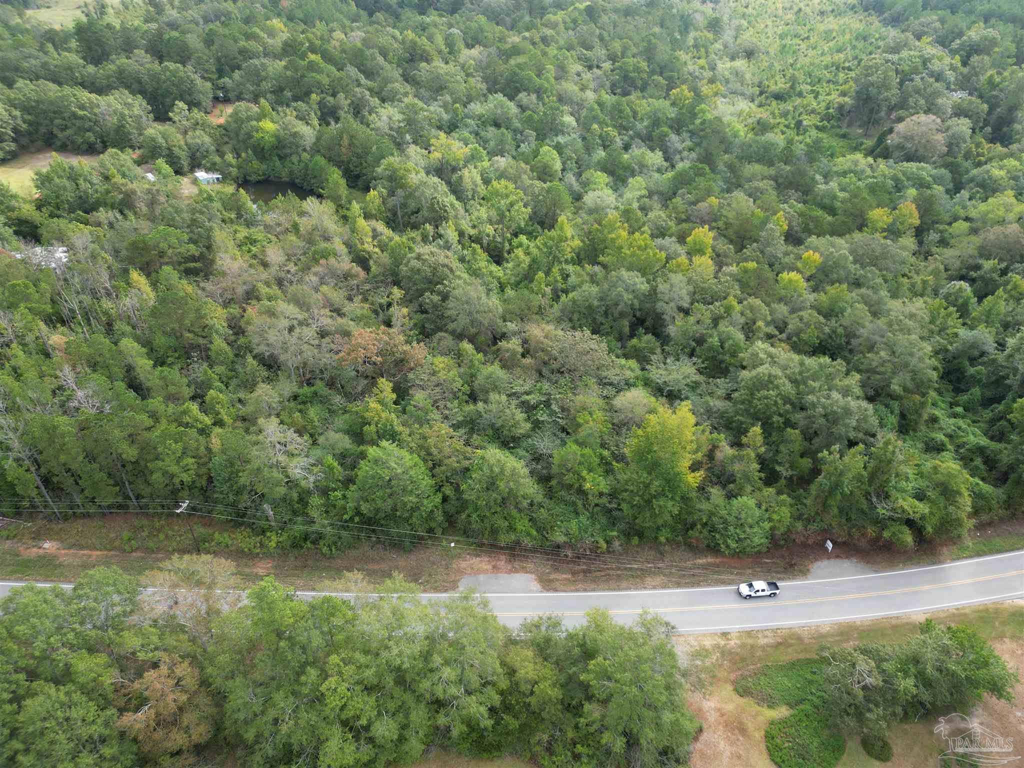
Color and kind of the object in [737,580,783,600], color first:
white vehicle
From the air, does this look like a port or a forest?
forest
